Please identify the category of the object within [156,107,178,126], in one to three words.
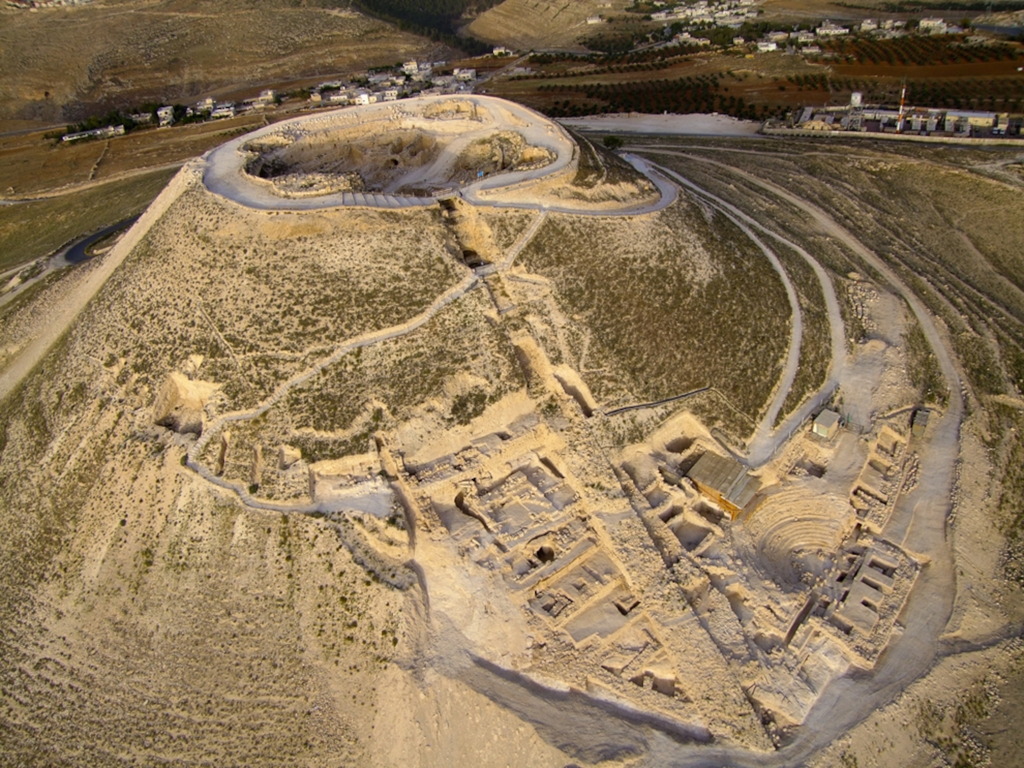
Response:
house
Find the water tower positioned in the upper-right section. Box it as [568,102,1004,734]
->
[847,91,869,128]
